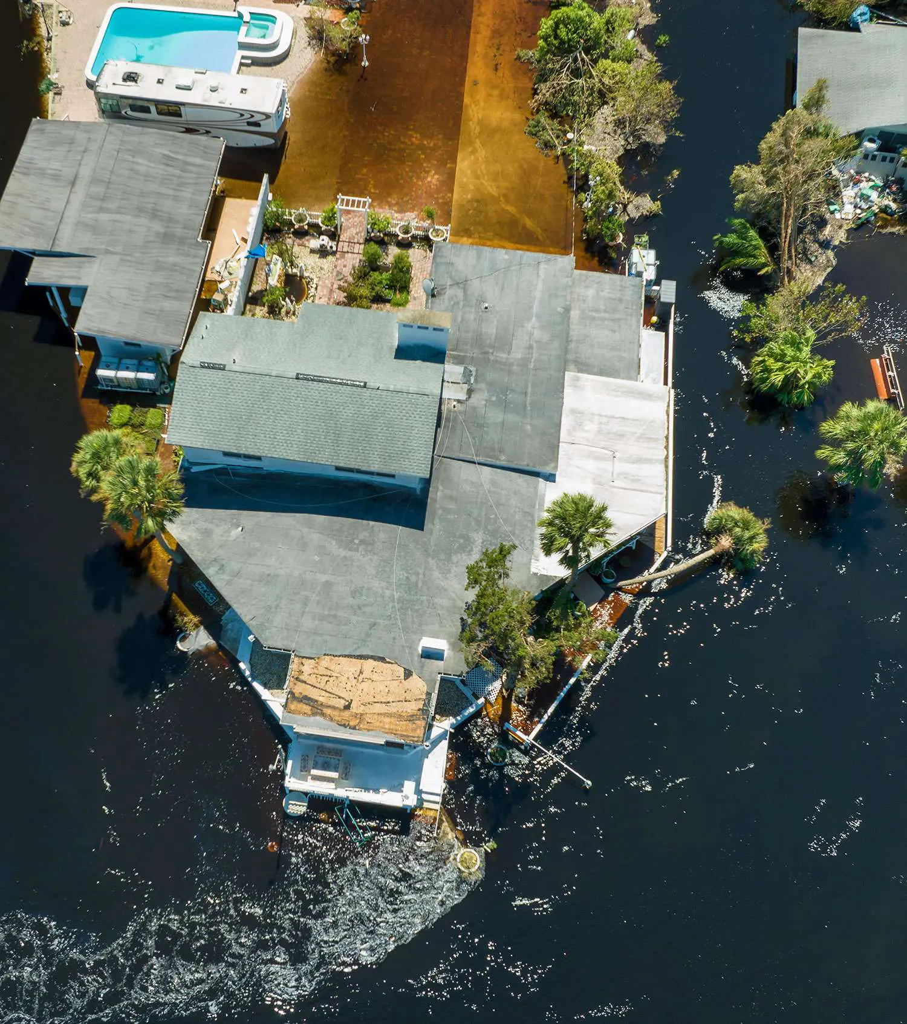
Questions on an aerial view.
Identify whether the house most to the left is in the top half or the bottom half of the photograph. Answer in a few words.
top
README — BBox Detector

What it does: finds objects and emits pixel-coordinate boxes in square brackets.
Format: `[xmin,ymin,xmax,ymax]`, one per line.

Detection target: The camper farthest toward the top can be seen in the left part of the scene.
[97,54,296,159]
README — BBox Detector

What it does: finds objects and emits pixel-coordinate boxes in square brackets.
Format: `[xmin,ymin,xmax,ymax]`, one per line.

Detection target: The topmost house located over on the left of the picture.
[0,118,229,371]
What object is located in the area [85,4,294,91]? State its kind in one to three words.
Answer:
swimming pool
